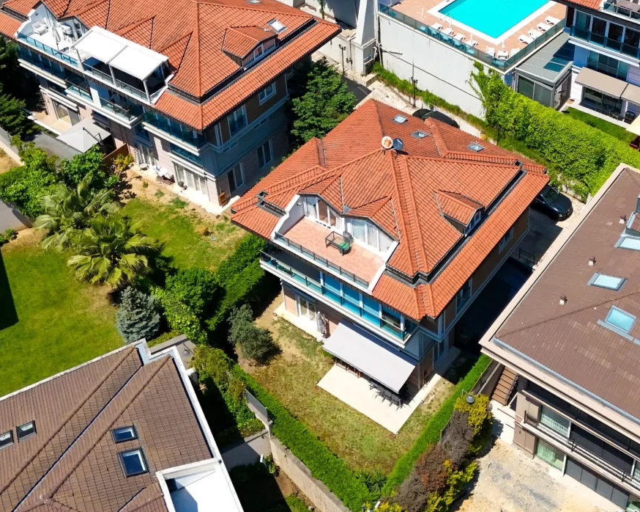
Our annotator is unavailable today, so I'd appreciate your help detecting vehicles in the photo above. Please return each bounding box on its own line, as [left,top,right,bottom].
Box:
[529,195,579,236]
[410,104,464,136]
